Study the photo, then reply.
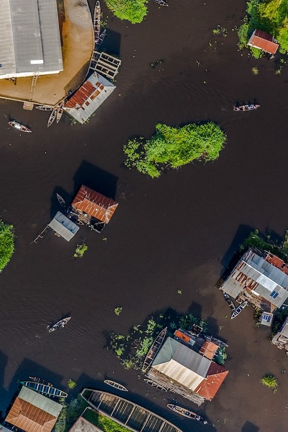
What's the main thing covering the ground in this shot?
water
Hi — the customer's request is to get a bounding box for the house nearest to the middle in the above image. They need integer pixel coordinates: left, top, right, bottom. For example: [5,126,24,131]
[72,185,119,224]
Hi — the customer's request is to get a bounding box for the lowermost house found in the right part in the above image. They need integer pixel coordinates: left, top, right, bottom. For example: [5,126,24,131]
[145,330,228,405]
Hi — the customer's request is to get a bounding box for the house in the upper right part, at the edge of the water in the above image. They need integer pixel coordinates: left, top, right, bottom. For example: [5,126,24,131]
[245,29,279,55]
